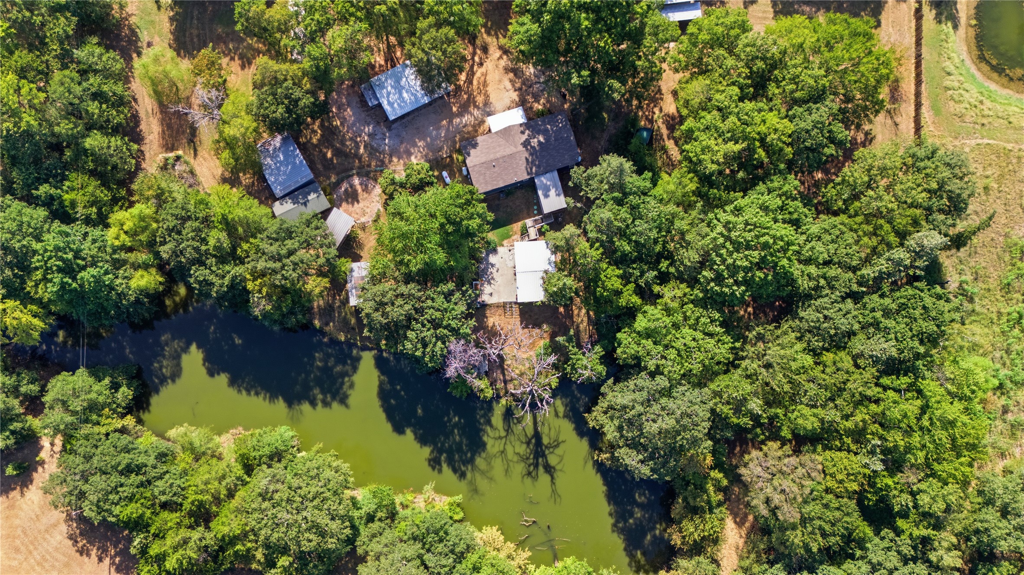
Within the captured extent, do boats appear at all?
No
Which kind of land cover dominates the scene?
trees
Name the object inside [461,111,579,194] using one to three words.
house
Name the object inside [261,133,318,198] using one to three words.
shed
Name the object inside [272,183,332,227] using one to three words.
shed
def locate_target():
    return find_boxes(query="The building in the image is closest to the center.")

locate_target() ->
[514,240,556,302]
